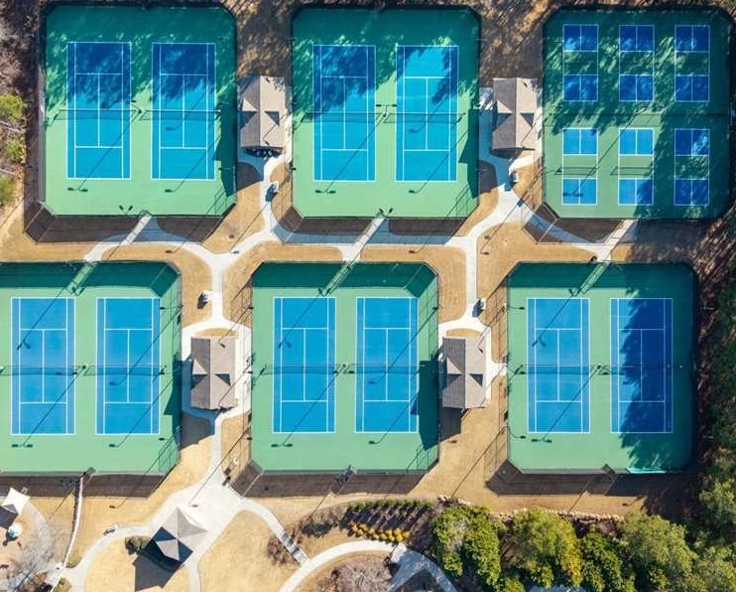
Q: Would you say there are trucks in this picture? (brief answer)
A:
No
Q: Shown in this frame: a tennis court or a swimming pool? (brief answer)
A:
tennis court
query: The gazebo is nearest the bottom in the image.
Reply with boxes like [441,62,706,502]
[153,502,210,562]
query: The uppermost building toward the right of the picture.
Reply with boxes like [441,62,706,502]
[493,74,537,149]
